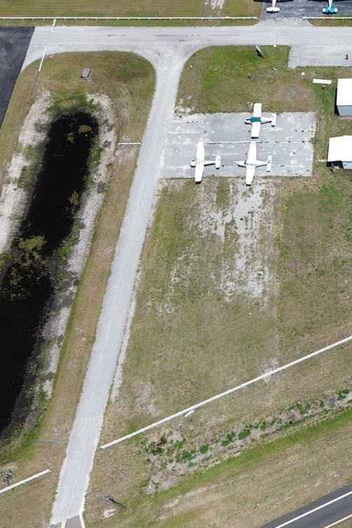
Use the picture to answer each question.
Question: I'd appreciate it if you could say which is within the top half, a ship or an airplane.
airplane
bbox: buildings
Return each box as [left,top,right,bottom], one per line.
[328,136,352,168]
[338,78,352,115]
